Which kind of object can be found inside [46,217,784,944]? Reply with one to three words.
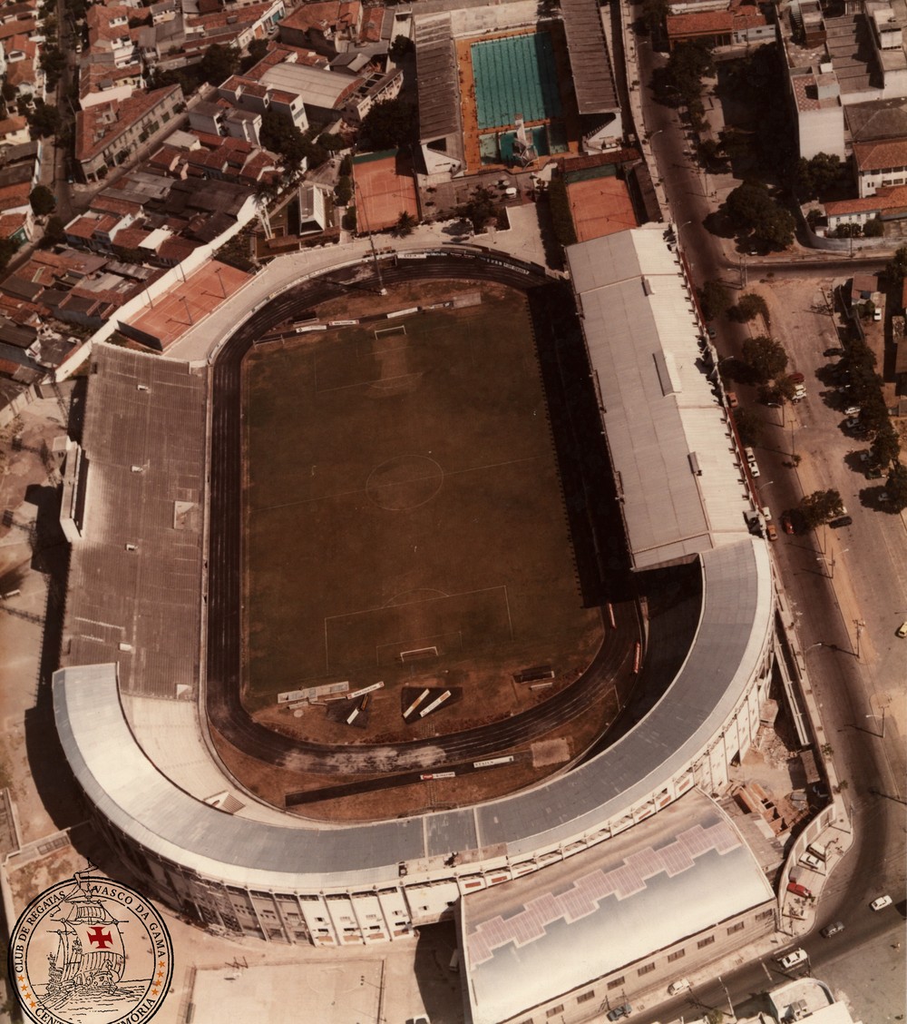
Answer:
stadium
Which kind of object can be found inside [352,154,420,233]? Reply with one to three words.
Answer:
tennis court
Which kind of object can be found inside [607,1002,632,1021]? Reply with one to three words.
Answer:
car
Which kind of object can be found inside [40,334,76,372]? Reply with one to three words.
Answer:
shed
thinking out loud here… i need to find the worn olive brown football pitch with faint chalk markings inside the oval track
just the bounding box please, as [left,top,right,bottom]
[243,268,590,747]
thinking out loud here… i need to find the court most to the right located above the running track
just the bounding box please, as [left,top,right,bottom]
[568,177,636,240]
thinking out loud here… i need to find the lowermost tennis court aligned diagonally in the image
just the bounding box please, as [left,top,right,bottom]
[129,261,253,348]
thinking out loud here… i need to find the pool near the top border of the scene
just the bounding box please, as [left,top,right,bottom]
[453,19,587,169]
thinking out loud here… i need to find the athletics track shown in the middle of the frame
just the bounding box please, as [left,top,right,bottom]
[209,248,625,778]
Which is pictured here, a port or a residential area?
residential area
